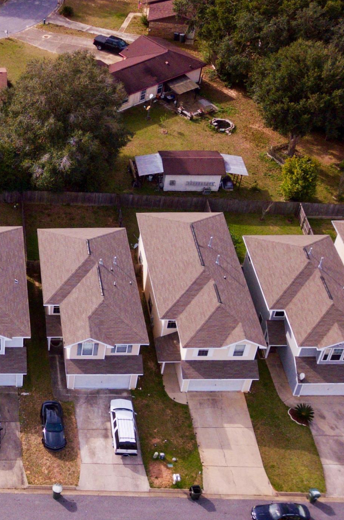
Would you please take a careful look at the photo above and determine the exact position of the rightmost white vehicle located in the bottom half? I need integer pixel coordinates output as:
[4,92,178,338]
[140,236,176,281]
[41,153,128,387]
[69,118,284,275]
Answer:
[111,400,141,454]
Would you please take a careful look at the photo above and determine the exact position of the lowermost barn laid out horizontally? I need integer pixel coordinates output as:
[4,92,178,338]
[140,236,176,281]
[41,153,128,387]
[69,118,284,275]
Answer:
[133,150,248,190]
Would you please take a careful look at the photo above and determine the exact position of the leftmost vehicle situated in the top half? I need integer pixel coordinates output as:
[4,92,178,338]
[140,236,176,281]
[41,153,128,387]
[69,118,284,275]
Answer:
[85,34,128,51]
